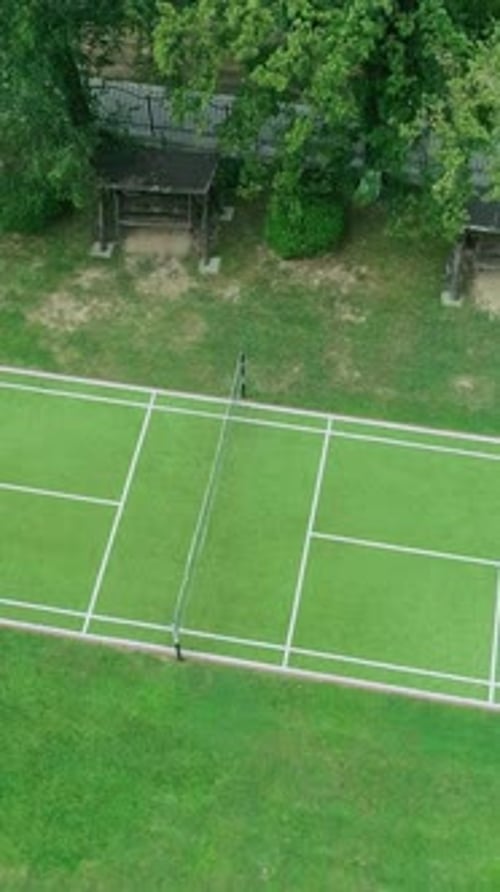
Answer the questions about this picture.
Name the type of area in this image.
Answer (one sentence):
This looks like a sports ground.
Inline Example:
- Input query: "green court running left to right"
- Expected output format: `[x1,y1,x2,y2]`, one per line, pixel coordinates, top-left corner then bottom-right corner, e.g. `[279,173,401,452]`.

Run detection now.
[0,366,500,709]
